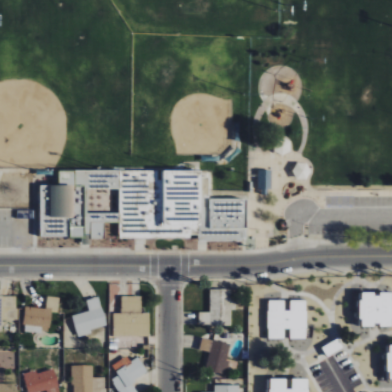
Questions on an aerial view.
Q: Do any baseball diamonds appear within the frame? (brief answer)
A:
Yes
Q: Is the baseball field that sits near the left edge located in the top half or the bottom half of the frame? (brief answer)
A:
top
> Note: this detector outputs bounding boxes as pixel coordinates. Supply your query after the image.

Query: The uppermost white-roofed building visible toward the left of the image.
[38,170,247,241]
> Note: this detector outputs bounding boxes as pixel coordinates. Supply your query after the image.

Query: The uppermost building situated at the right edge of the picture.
[356,292,392,327]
